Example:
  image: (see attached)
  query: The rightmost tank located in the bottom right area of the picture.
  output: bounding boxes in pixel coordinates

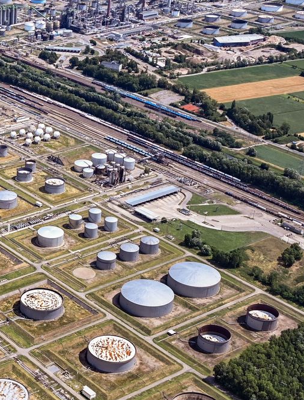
[245,303,285,332]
